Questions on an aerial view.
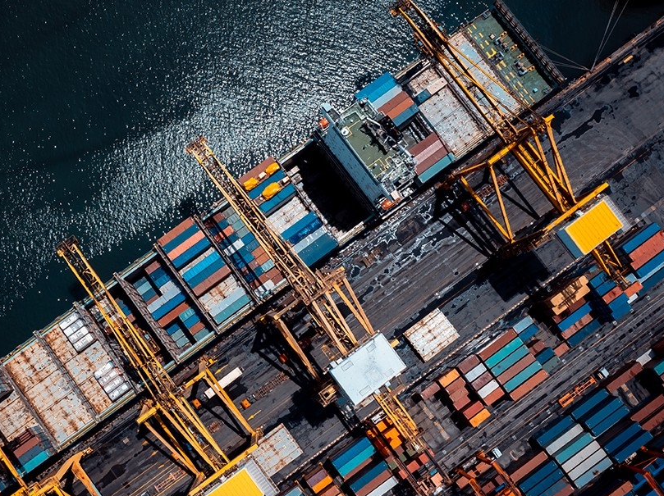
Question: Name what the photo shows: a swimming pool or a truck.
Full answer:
It is a truck that can be seen here.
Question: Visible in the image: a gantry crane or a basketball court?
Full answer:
Visible in the photo is a gantry crane.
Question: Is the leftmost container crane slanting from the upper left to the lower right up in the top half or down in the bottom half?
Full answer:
It is in the bottom half that the leftmost container crane slanting from the upper left to the lower right appears.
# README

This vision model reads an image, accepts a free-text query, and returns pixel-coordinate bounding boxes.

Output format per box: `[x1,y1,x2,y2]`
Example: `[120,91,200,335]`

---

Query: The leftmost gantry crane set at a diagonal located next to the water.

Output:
[49,238,277,496]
